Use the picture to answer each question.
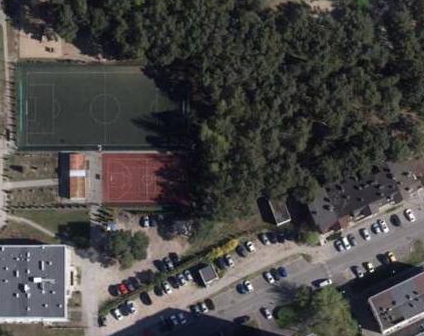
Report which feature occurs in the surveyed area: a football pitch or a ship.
football pitch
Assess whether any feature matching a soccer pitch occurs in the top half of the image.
Yes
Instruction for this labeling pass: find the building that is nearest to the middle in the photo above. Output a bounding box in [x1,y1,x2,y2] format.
[269,197,290,227]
